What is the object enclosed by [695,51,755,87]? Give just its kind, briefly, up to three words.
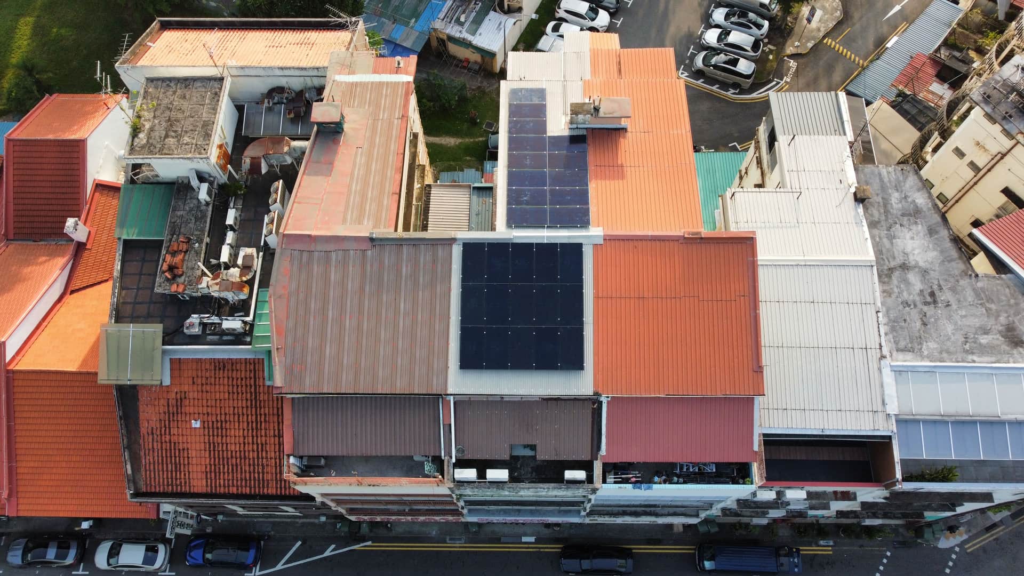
car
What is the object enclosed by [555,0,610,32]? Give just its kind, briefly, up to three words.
car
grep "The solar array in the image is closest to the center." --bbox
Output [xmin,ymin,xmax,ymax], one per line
[459,242,586,370]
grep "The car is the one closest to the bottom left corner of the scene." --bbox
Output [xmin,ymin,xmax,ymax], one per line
[4,535,88,570]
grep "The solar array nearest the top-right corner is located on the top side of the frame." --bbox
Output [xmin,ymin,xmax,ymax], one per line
[507,87,589,229]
